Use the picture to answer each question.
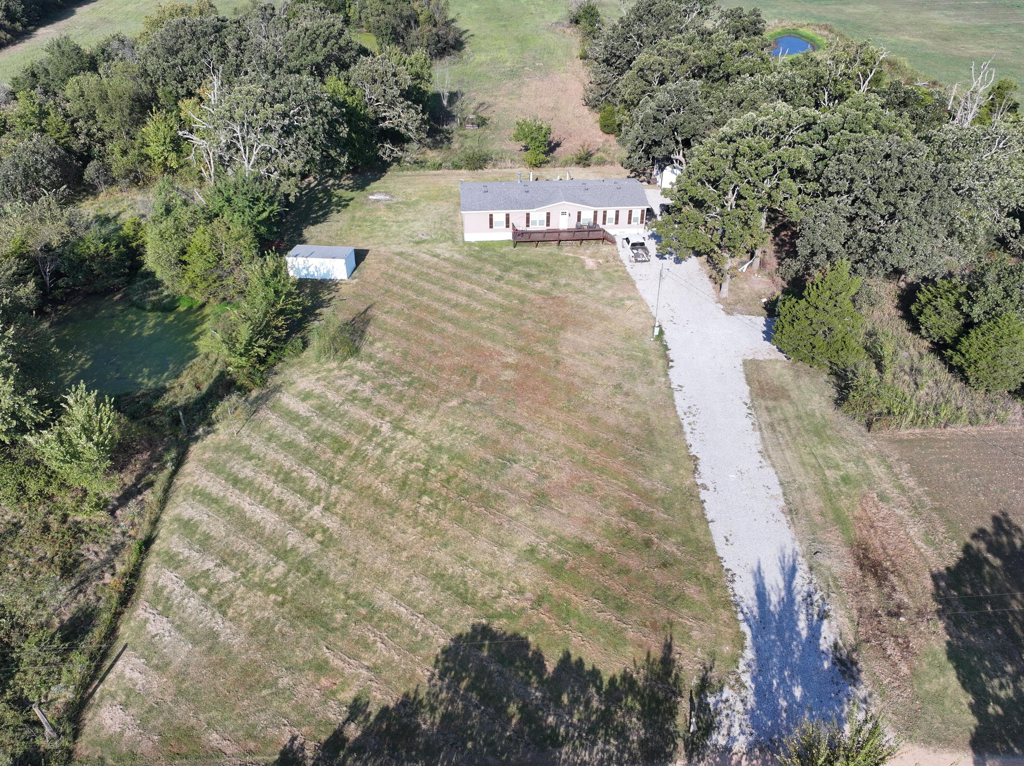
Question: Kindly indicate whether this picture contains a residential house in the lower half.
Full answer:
No, the scene shows no residential house in the lower half.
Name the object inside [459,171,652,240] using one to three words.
house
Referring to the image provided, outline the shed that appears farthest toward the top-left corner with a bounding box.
[284,245,354,280]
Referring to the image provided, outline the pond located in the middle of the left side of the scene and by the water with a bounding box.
[27,290,216,405]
